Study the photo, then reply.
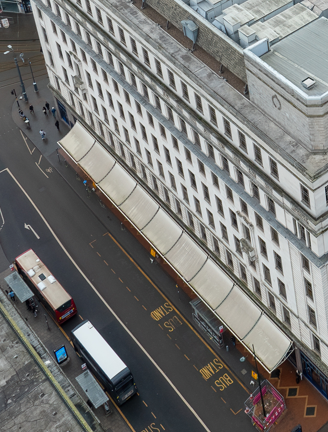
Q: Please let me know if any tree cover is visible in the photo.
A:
No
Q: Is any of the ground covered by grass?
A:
No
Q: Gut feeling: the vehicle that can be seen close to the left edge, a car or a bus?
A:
bus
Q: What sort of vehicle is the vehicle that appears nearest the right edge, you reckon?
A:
bus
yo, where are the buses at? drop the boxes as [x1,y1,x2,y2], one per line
[69,322,140,410]
[16,252,78,324]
